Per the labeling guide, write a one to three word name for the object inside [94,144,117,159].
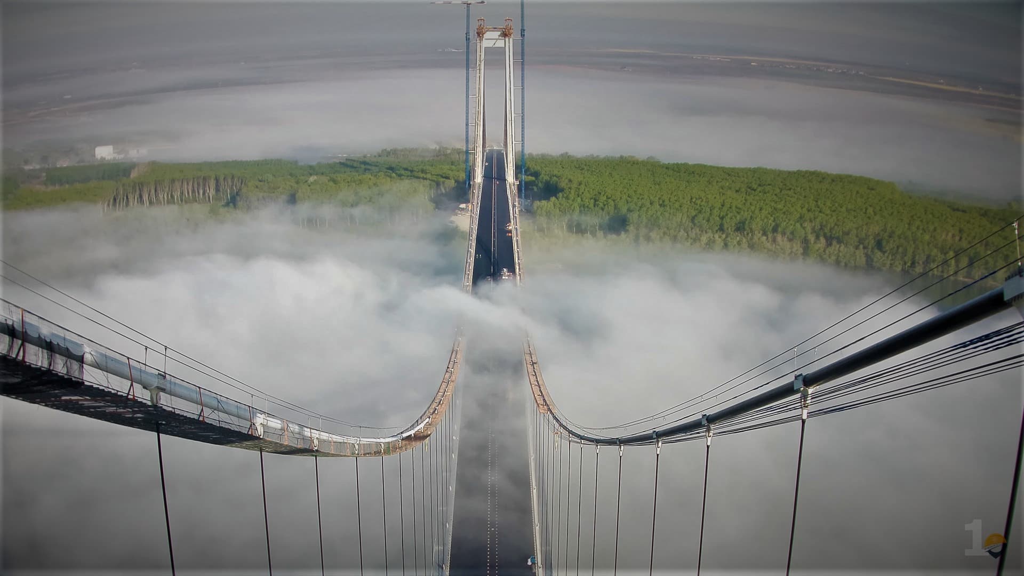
building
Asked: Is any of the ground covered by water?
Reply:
Yes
